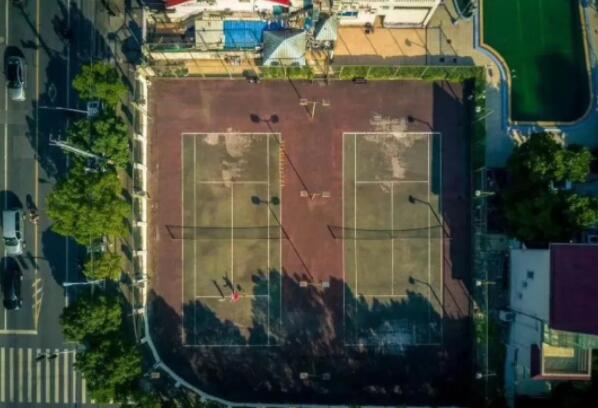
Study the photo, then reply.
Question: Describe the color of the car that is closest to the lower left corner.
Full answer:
The car that is closest to the lower left corner looks black in the image.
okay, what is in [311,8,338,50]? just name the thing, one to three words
building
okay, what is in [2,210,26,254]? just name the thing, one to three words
car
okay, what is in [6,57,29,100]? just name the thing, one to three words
car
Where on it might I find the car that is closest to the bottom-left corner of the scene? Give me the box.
[1,261,24,305]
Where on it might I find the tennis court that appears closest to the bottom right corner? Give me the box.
[343,132,442,346]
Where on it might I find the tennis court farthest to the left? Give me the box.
[182,132,281,346]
